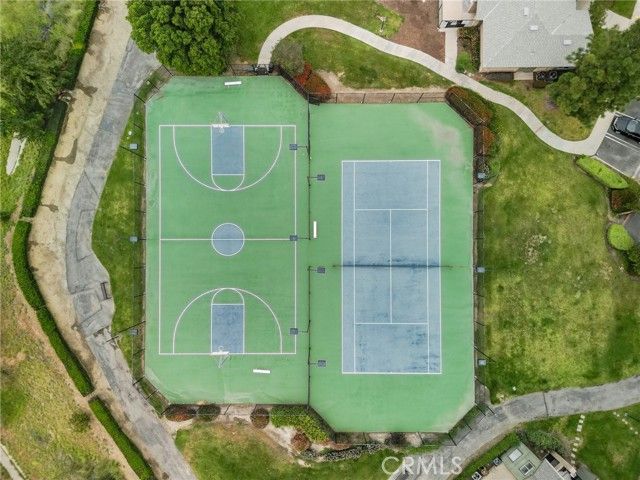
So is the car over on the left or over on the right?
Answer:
right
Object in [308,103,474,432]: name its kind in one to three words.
tennis court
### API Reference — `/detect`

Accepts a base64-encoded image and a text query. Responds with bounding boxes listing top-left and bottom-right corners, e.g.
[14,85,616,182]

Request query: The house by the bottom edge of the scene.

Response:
[498,438,561,480]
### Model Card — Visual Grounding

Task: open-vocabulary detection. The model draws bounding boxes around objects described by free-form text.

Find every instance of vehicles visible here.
[609,118,640,149]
